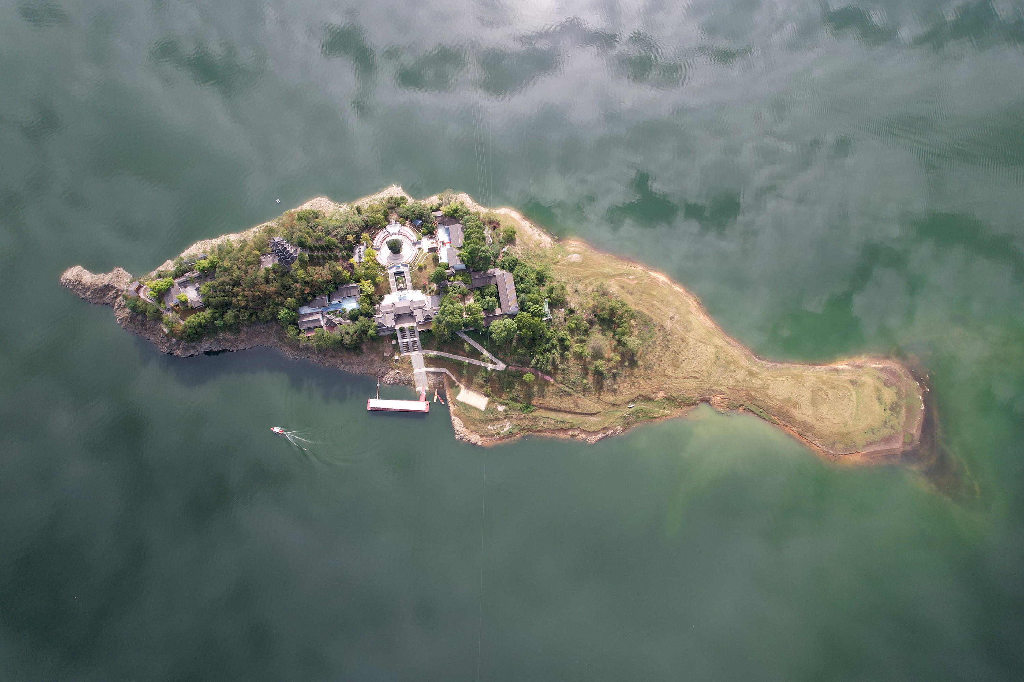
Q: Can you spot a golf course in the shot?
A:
No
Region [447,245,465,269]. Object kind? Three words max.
building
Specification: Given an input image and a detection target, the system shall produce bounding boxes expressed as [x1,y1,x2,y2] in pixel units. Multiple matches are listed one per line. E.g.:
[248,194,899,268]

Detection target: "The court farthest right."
[456,388,489,411]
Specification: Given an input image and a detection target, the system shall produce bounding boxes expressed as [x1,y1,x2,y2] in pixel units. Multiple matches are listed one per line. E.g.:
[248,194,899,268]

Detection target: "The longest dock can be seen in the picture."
[367,399,429,412]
